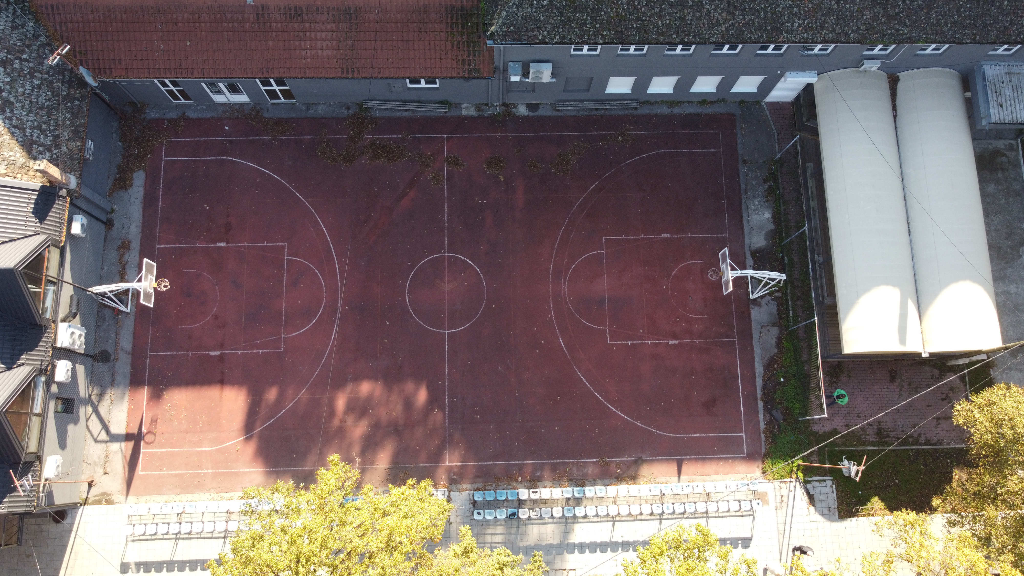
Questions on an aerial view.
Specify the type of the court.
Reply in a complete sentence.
Specifically, the court is a basketball court.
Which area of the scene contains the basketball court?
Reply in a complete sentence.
You can find the basketball court in the center area of the picture.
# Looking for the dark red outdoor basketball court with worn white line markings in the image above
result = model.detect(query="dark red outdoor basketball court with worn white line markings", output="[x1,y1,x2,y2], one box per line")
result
[126,114,763,499]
